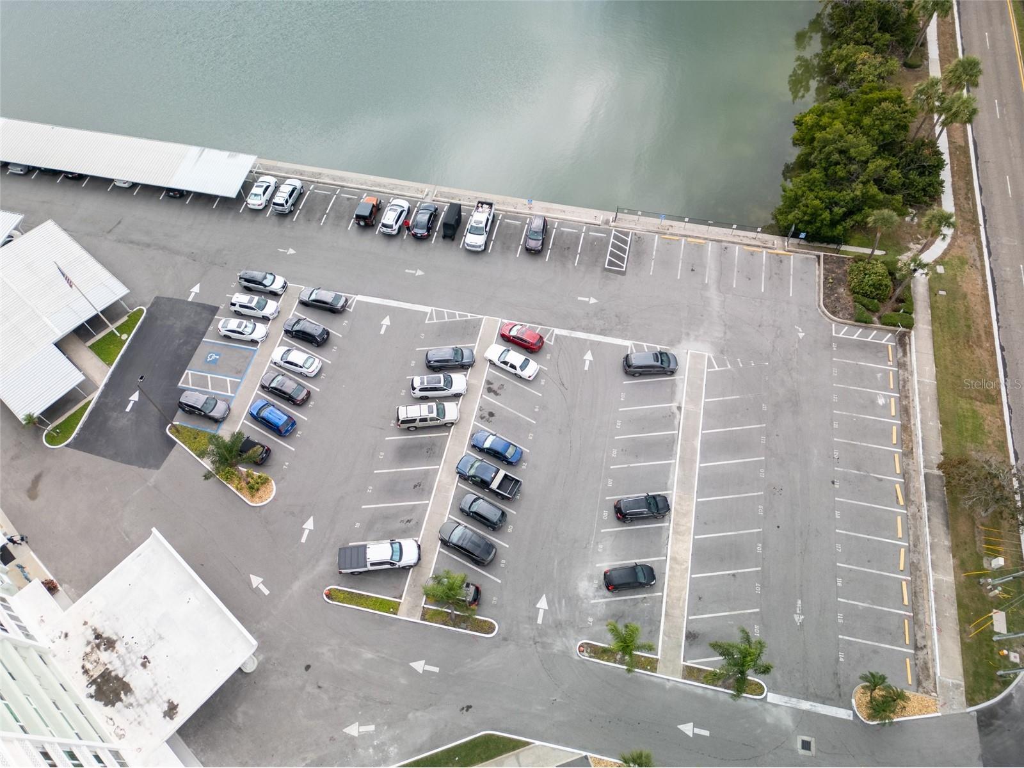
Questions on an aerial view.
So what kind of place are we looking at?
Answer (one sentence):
The area seen from above is a parking lot.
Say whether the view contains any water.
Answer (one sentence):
Yes, the picture does contain water.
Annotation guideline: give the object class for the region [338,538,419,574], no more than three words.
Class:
truck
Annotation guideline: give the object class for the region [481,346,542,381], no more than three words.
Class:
car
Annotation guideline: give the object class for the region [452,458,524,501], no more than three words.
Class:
truck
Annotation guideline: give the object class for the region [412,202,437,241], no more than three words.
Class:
car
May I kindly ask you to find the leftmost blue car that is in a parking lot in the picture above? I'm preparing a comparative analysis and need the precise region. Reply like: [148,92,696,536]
[245,399,301,438]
